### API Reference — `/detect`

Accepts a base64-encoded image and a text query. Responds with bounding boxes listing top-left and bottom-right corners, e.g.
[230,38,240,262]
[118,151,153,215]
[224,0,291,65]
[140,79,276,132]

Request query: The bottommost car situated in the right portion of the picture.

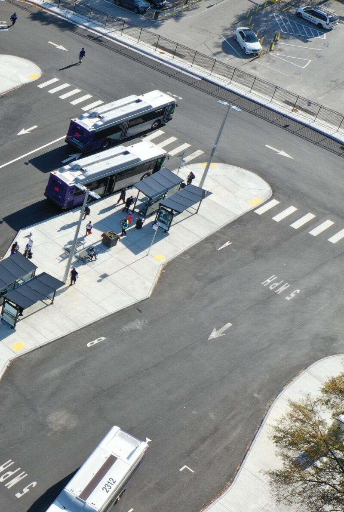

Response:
[233,29,261,54]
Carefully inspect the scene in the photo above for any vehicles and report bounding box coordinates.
[45,427,154,512]
[233,29,261,54]
[146,0,169,9]
[112,0,153,13]
[297,3,341,29]
[63,89,178,154]
[43,138,170,211]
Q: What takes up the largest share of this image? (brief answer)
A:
paved ground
